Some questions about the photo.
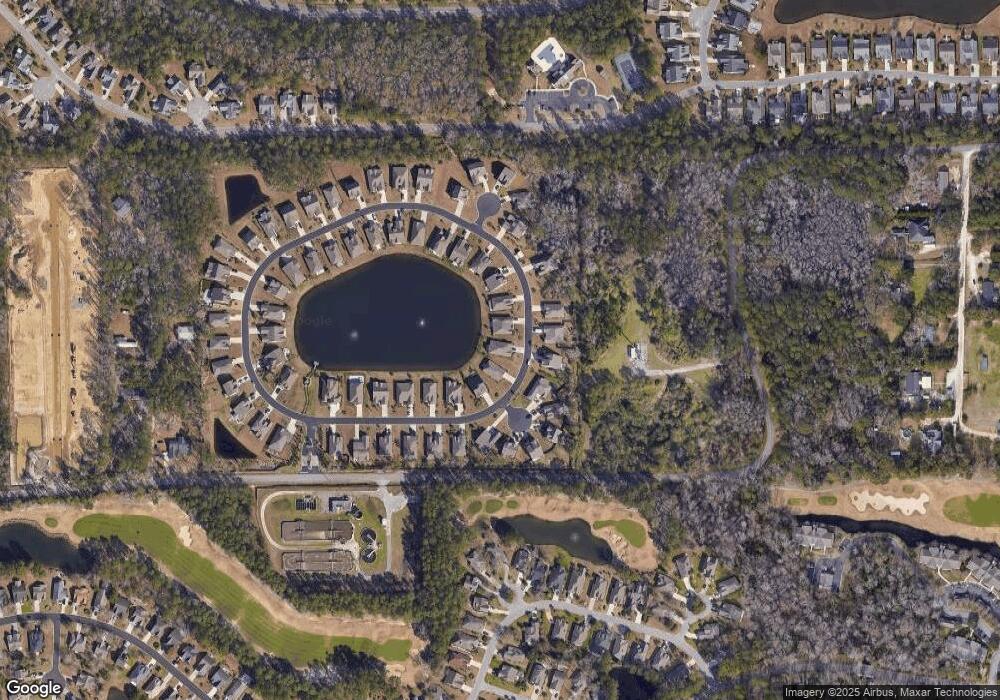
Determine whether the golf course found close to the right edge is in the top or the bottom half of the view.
bottom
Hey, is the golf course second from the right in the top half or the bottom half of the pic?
bottom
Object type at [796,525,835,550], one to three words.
building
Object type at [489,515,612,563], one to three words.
pond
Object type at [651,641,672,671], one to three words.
house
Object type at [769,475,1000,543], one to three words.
golf course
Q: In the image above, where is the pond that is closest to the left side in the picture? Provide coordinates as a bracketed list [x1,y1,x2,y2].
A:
[0,519,91,577]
